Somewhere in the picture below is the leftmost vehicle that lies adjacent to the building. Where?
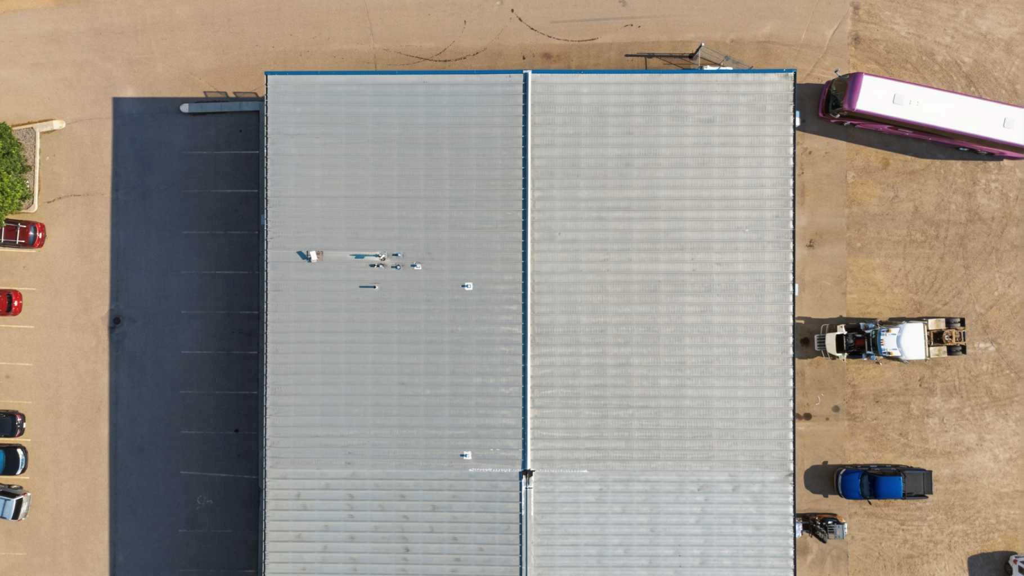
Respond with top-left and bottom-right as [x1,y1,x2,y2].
[795,511,847,551]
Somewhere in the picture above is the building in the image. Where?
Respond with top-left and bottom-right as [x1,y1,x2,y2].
[263,68,797,576]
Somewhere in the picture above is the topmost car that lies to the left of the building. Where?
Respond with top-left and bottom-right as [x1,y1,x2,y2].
[0,218,49,247]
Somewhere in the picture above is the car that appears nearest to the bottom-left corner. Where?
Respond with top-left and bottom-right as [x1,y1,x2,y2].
[0,486,33,519]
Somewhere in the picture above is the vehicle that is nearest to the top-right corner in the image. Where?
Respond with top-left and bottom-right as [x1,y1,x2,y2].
[818,67,1024,159]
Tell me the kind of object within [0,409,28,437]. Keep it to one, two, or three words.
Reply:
car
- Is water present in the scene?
No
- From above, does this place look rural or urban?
urban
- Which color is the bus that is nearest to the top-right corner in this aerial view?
white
